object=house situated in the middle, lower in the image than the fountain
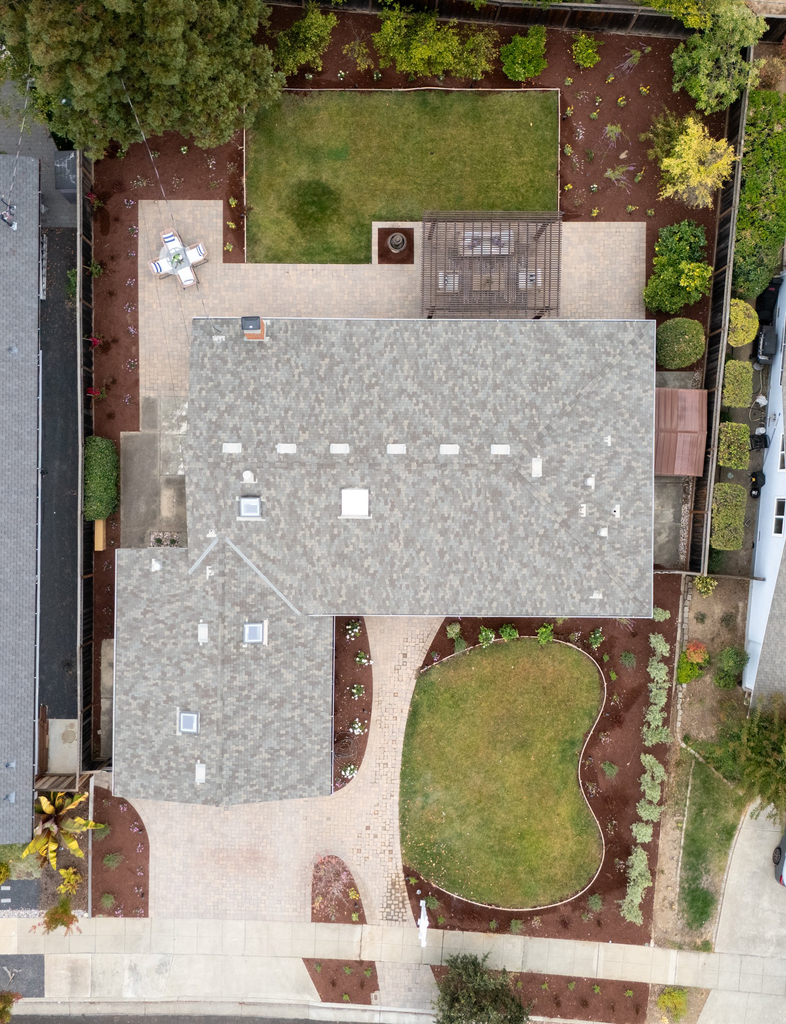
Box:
[112,317,657,808]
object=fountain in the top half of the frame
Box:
[386,236,405,256]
